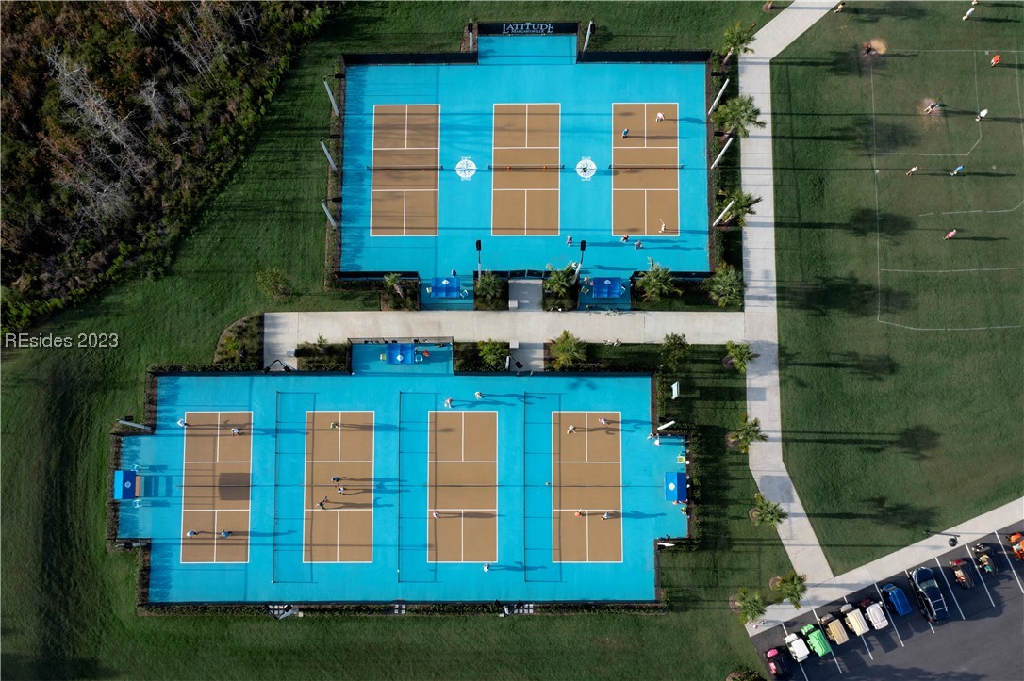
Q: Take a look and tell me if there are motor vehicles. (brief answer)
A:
Yes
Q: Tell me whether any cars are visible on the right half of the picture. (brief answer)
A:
Yes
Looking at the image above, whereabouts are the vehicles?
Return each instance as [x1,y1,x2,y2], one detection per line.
[803,627,833,660]
[786,634,815,667]
[976,546,1009,577]
[767,649,795,681]
[884,585,914,617]
[843,607,873,639]
[915,567,956,625]
[823,617,852,650]
[952,559,983,590]
[861,601,891,633]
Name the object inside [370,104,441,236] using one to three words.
sports court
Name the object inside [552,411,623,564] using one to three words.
sports court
